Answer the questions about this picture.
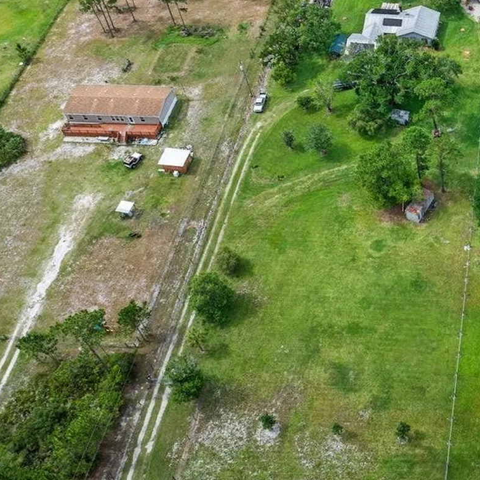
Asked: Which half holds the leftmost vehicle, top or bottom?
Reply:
top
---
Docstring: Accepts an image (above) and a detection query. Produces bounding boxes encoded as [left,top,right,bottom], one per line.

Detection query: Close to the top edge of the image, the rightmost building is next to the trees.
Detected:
[345,5,442,59]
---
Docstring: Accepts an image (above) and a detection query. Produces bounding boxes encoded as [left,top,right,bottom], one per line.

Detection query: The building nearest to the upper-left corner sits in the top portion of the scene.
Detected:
[60,85,179,149]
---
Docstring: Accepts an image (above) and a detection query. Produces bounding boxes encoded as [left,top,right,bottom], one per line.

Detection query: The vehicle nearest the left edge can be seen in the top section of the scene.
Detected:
[117,151,148,172]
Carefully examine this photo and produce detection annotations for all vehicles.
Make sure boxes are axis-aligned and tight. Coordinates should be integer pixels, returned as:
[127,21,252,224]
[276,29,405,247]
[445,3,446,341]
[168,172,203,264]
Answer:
[250,92,269,114]
[117,151,148,172]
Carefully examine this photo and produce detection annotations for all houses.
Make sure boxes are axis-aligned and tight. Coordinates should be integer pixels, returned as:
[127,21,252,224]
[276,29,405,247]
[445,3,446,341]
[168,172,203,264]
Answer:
[60,85,179,149]
[345,5,442,59]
